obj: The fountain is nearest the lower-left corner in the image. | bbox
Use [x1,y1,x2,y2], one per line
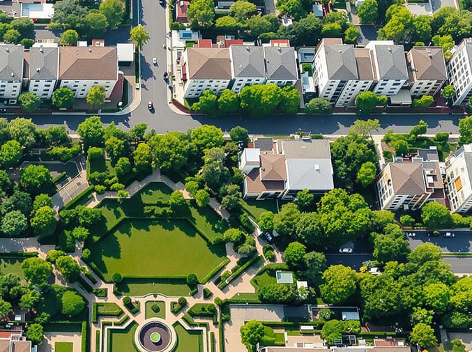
[134,317,177,352]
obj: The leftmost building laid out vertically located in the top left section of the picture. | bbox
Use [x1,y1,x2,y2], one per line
[0,40,33,107]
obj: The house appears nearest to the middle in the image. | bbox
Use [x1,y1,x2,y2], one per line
[241,137,334,202]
